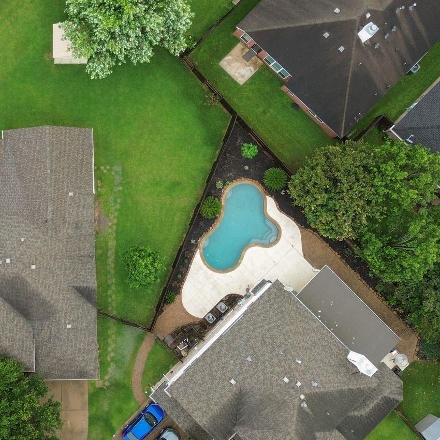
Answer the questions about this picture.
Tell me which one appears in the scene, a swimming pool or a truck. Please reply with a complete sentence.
There is a swimming pool in the scene.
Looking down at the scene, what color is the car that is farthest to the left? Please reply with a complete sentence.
In this view, the car that is farthest to the left is blue.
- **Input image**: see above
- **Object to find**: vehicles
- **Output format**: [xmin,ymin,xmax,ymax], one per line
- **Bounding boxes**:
[156,428,184,440]
[120,404,168,440]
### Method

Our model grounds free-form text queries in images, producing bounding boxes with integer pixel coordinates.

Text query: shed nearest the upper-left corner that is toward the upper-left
[53,24,88,62]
